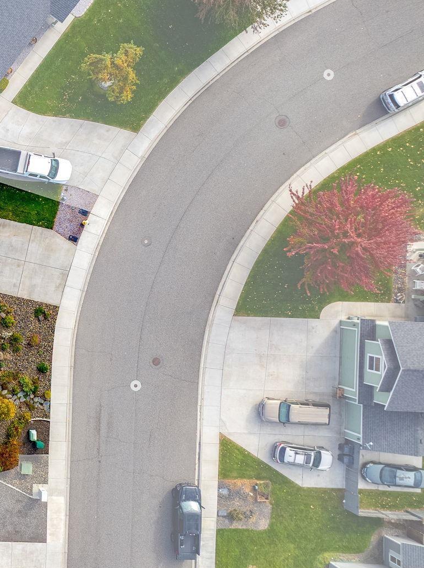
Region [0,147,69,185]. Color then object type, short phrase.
white vehicle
